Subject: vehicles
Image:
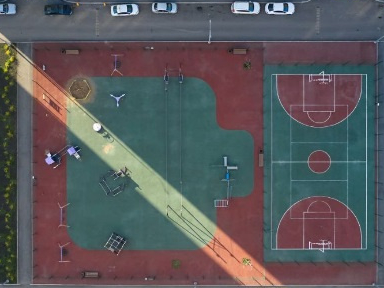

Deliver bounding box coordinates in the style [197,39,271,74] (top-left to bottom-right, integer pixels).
[45,3,73,17]
[152,1,177,14]
[231,1,260,15]
[265,1,295,16]
[0,2,18,16]
[111,3,140,17]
